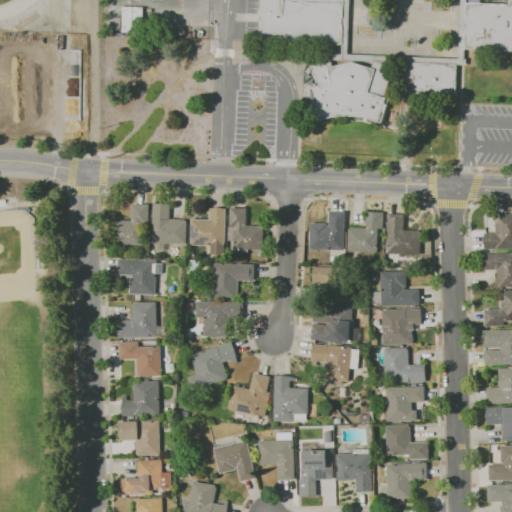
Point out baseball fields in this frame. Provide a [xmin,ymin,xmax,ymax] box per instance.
[0,209,44,512]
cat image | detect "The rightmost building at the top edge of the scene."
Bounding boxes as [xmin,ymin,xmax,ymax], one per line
[466,2,512,50]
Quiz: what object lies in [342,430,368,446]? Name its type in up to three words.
swimming pool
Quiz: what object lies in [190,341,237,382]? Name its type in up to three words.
house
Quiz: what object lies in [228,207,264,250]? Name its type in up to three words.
house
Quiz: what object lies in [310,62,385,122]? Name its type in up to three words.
building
